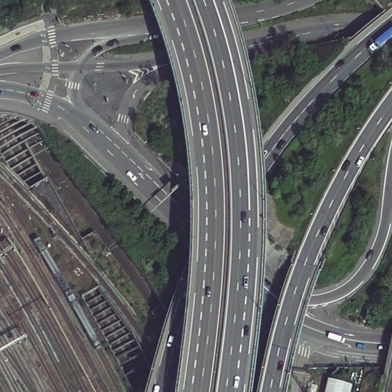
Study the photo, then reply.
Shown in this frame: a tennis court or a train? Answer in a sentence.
Looking from above, you can make out a train.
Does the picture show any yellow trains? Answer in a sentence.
No, this view has no yellow train in it.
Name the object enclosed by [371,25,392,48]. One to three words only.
truck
